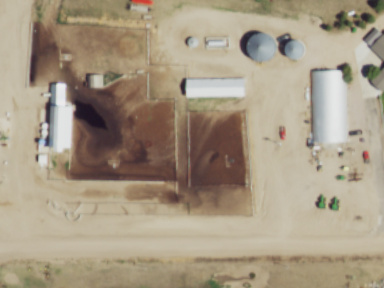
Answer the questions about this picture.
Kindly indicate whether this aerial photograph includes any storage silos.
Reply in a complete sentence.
Yes, you can see a storage silo in this photo.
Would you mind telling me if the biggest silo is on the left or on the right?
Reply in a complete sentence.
The biggest silo sits on the right side.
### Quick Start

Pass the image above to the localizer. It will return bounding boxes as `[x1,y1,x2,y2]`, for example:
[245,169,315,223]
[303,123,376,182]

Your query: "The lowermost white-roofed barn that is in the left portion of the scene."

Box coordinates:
[50,105,73,152]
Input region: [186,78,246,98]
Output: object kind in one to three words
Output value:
shed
